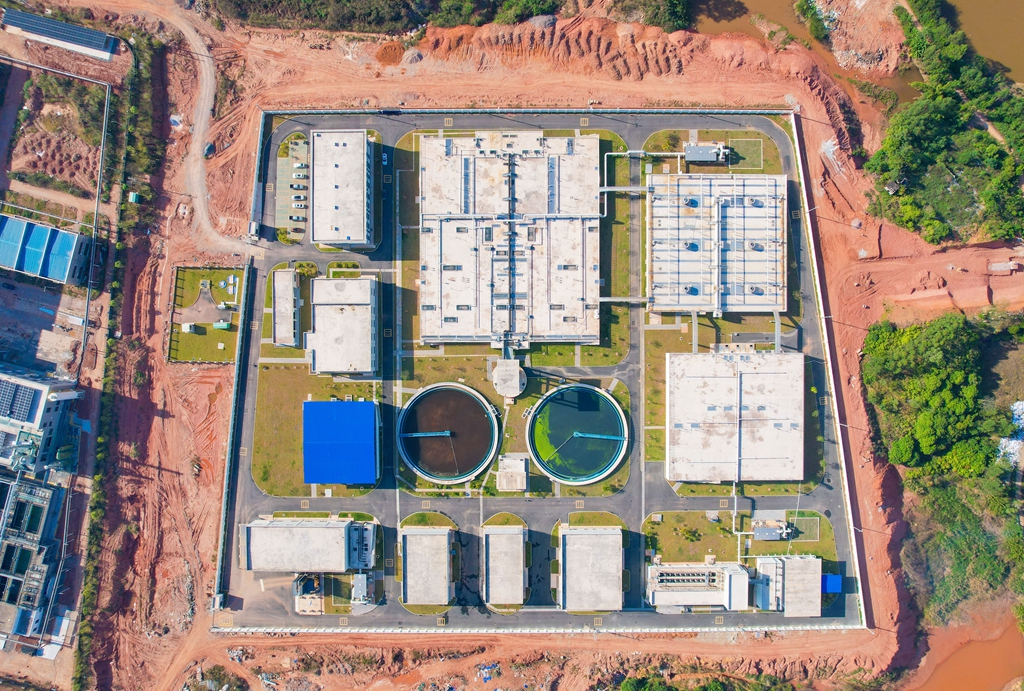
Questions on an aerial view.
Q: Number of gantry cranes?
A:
0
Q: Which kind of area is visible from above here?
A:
industrial area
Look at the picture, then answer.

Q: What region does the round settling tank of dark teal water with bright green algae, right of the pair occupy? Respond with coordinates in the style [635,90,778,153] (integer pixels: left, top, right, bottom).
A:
[526,383,628,485]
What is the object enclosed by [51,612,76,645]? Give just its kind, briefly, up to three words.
shed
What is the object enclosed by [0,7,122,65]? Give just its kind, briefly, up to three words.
shed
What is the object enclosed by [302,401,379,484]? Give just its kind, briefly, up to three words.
building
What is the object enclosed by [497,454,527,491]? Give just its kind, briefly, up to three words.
building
